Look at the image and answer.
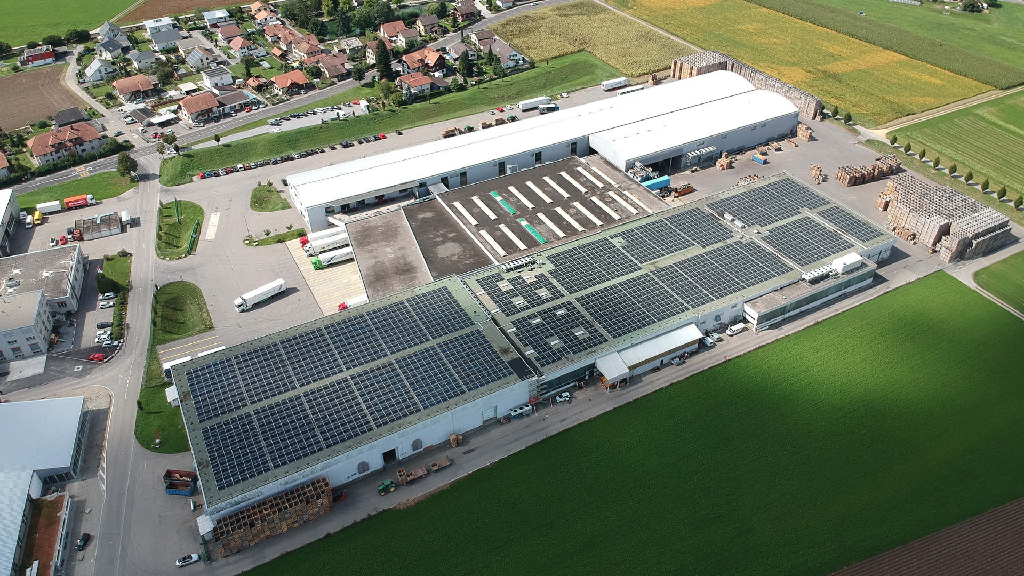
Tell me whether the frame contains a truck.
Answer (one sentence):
Yes, the frame does contain a truck.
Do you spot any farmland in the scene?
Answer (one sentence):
Yes, some farmland is visible.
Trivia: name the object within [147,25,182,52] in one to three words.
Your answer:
house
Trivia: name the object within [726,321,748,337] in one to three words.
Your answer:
vehicle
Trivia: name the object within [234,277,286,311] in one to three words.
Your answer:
truck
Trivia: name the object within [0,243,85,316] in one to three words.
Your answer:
building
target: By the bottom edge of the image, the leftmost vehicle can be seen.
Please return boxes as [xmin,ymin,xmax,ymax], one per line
[73,534,91,554]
